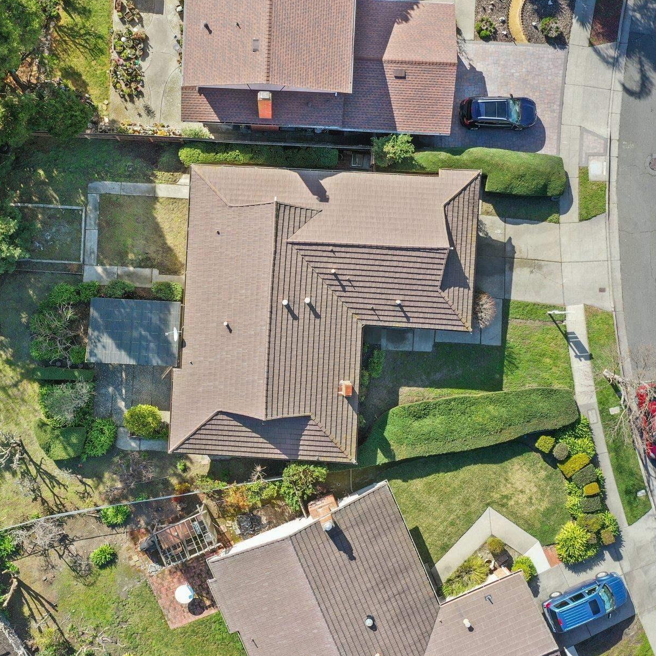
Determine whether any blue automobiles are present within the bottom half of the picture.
Yes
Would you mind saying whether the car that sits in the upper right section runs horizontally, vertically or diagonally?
horizontally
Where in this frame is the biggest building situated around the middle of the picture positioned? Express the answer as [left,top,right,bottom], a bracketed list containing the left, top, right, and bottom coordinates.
[168,165,480,462]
